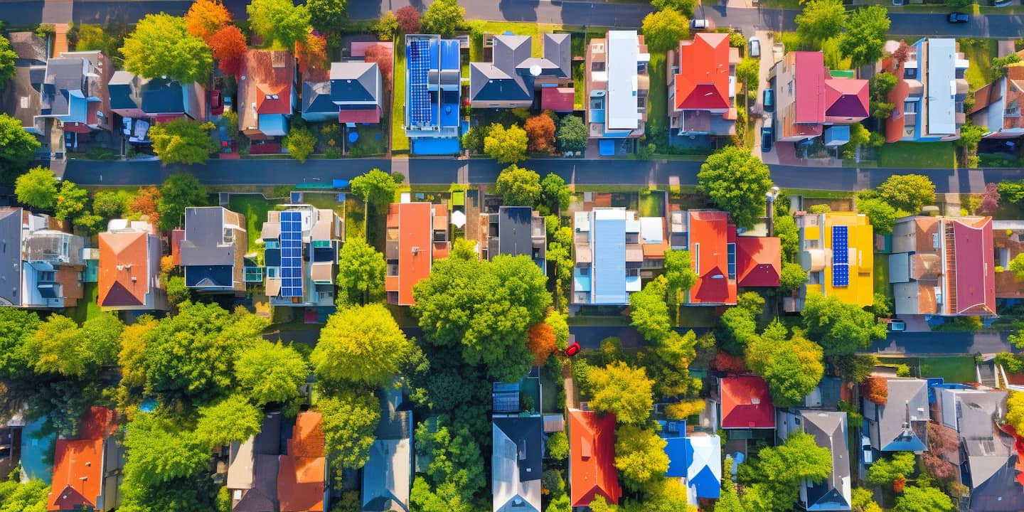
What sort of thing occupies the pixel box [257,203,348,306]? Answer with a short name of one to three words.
house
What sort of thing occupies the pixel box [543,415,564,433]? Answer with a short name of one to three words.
shed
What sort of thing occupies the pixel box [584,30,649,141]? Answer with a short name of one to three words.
house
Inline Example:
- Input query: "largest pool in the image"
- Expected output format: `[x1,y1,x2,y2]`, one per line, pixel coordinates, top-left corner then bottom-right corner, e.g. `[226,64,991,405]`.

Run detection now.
[23,412,58,490]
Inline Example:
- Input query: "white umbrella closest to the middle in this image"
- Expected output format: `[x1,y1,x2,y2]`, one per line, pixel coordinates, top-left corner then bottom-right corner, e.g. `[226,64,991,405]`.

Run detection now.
[452,212,466,225]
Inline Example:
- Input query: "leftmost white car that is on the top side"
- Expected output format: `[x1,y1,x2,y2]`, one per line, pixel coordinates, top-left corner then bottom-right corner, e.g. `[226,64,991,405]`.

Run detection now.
[690,16,712,28]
